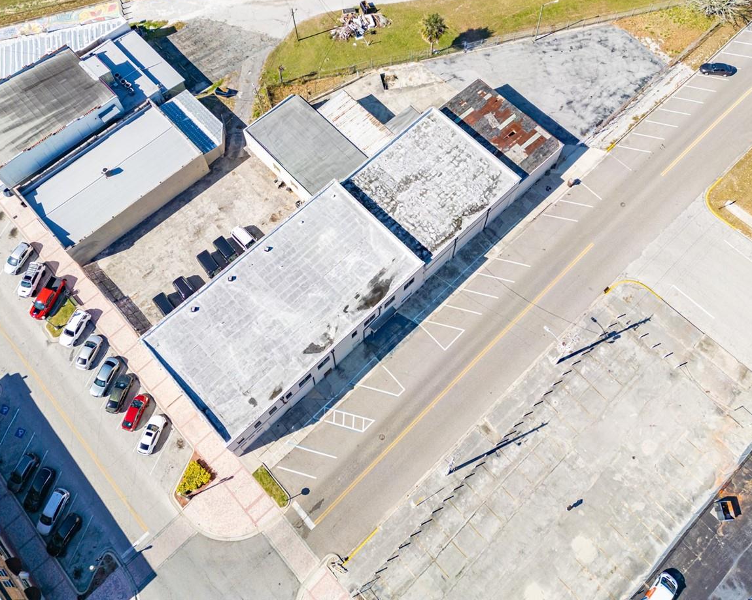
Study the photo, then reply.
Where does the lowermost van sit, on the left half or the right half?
right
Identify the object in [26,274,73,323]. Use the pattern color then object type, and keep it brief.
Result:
red truck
